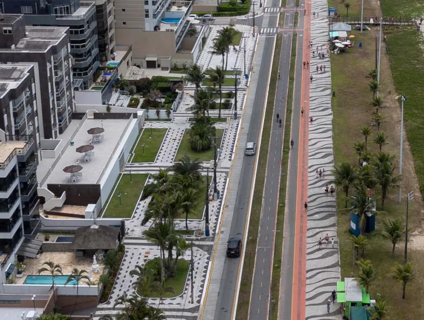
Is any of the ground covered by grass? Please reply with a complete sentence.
Yes, there is grass in the image.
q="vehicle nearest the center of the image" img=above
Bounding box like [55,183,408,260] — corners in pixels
[245,140,257,153]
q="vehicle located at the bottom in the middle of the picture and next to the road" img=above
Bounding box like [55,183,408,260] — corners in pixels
[226,235,242,257]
